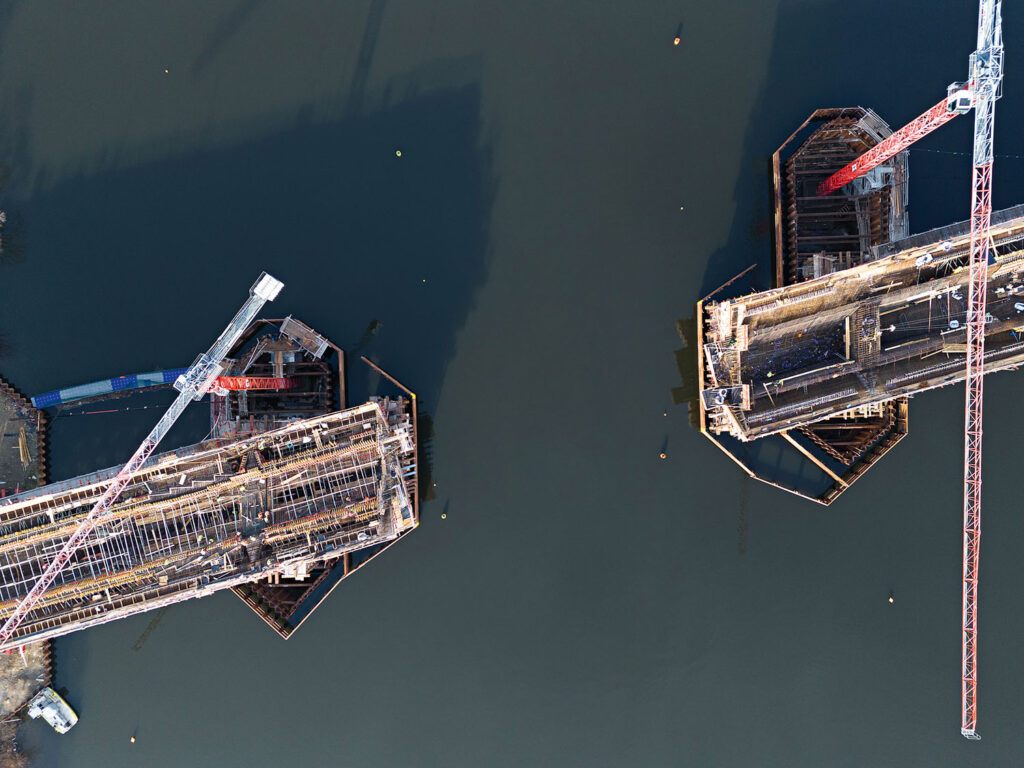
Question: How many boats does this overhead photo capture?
one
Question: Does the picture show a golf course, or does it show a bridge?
bridge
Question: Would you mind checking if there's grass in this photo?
No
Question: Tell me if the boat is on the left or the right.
left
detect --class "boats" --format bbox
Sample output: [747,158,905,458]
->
[26,683,79,735]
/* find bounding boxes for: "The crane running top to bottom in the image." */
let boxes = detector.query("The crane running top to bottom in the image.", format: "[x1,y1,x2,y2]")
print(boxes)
[820,0,1001,745]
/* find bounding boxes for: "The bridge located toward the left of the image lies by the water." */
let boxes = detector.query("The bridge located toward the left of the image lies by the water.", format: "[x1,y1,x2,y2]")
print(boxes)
[0,398,420,653]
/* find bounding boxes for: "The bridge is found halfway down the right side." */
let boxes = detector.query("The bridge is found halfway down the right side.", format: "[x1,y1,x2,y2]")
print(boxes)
[702,205,1024,441]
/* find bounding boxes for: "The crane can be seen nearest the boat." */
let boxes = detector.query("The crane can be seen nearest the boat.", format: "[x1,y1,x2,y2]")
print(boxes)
[0,271,306,658]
